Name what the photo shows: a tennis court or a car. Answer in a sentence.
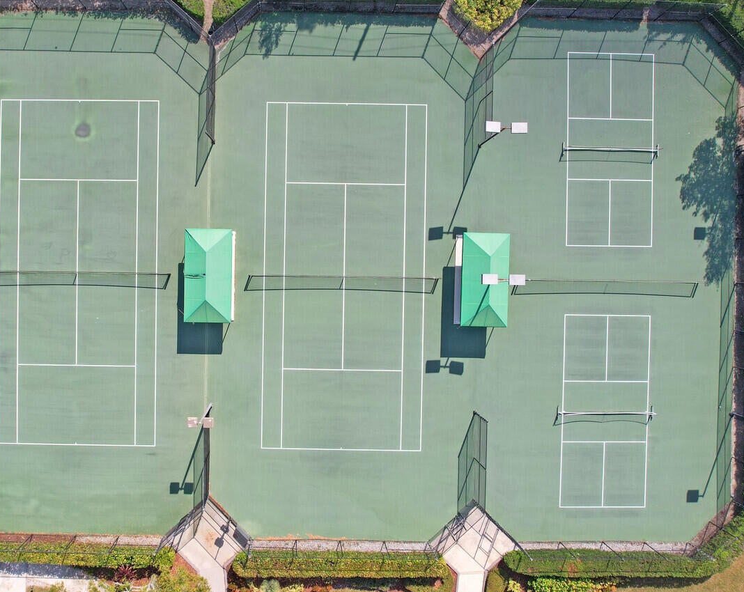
I can see a tennis court in this picture.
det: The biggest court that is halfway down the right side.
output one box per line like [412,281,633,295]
[473,17,741,543]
